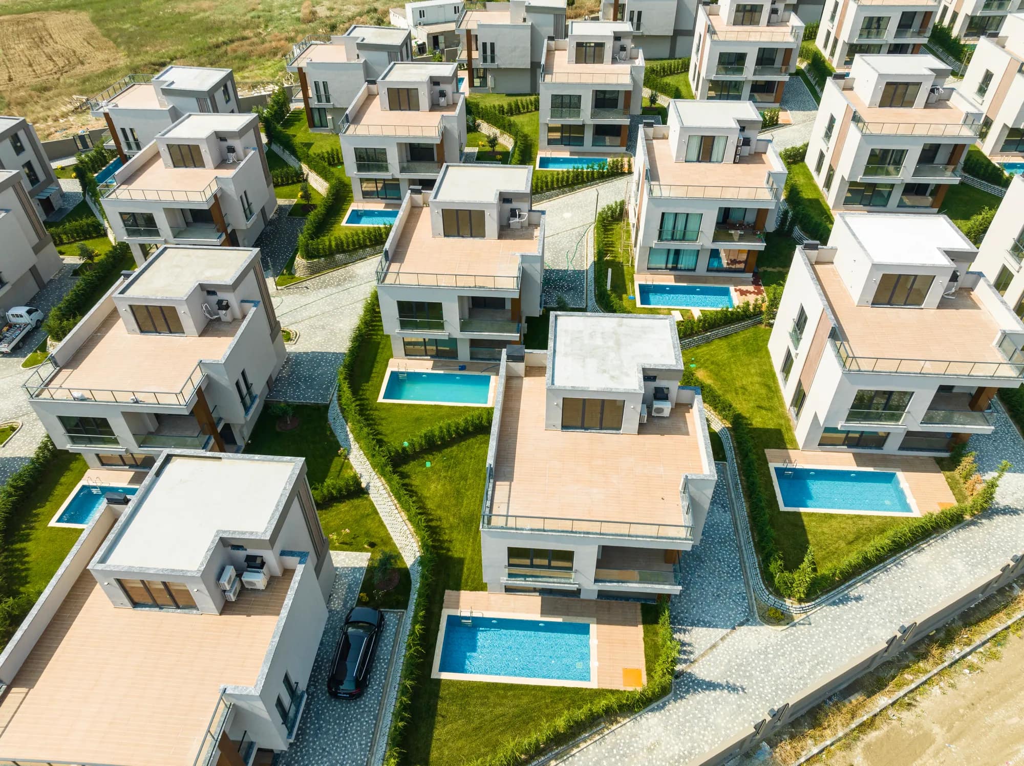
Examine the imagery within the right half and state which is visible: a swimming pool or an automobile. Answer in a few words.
swimming pool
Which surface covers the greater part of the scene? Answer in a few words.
buildings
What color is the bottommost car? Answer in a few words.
black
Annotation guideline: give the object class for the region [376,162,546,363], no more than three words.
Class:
house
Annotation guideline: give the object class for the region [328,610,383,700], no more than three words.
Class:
car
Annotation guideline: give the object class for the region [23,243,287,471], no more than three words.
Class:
house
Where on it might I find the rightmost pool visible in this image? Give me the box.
[995,153,1024,175]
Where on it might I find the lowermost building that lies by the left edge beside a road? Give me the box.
[0,449,337,766]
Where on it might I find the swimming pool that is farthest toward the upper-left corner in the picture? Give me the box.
[92,155,121,187]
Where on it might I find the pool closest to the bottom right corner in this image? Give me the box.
[762,448,966,517]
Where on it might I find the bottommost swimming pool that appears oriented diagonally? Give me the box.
[49,468,149,528]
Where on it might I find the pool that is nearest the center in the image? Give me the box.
[377,358,501,407]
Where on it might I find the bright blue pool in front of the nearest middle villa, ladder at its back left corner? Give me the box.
[431,591,646,692]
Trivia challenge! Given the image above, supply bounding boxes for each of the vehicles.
[0,312,46,360]
[328,610,383,700]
